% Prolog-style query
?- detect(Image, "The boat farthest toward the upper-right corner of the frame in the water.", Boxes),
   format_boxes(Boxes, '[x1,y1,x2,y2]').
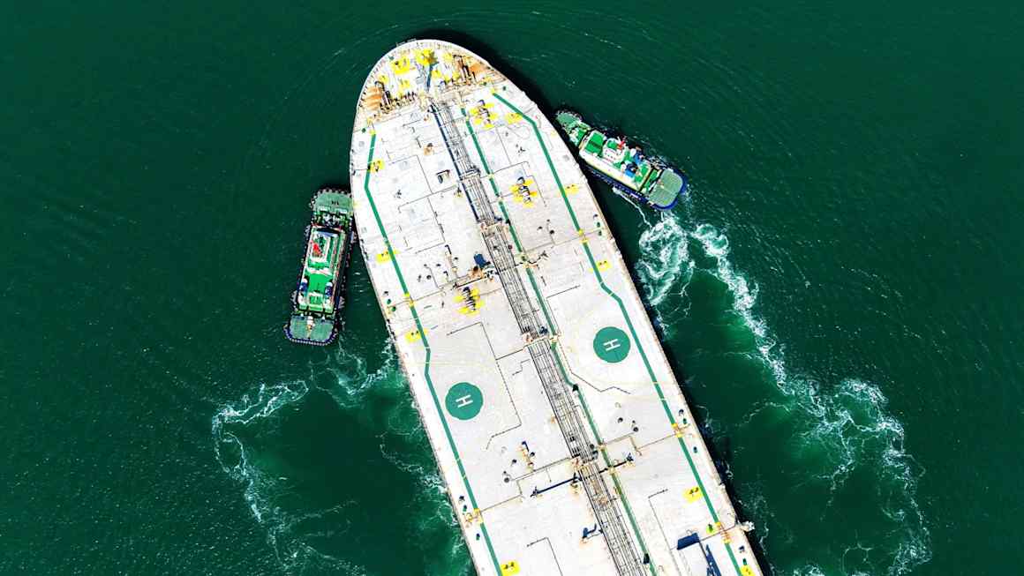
[551,110,691,219]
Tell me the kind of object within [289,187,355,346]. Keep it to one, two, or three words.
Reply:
boat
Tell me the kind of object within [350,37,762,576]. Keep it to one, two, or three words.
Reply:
ship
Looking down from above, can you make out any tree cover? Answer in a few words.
No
